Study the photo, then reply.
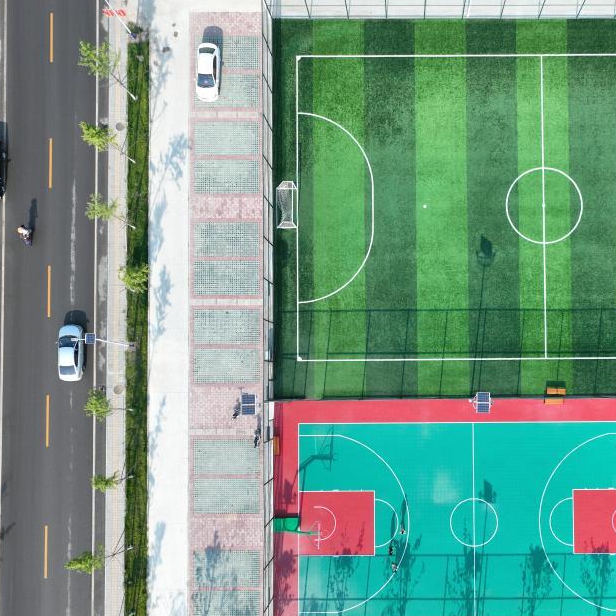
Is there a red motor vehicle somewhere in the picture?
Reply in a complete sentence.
No, the picture doesn't show any red motor vehicle.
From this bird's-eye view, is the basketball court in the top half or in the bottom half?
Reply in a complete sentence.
It is in the bottom half that the basketball court appears.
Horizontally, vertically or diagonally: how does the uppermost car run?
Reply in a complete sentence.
In this picture, the uppermost car lies vertically.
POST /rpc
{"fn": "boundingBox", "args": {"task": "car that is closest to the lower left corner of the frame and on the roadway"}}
[57,324,87,383]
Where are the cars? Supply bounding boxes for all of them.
[0,140,9,201]
[195,43,222,104]
[57,324,87,383]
